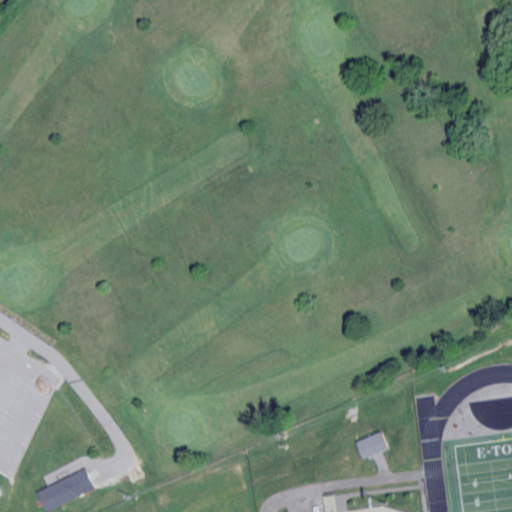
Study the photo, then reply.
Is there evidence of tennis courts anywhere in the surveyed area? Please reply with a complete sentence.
No, the photo shows no tennis court.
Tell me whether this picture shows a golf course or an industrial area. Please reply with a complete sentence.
This looks like a golf course.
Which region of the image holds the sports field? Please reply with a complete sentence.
The sports field is located in the bottom right region of the scene.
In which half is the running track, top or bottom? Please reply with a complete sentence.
The bottom half of the photo is where the running track is.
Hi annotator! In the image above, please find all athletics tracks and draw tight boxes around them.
[416,364,512,512]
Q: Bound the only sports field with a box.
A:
[442,436,512,512]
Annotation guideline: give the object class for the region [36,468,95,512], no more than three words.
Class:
building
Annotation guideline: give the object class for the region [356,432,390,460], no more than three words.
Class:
house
